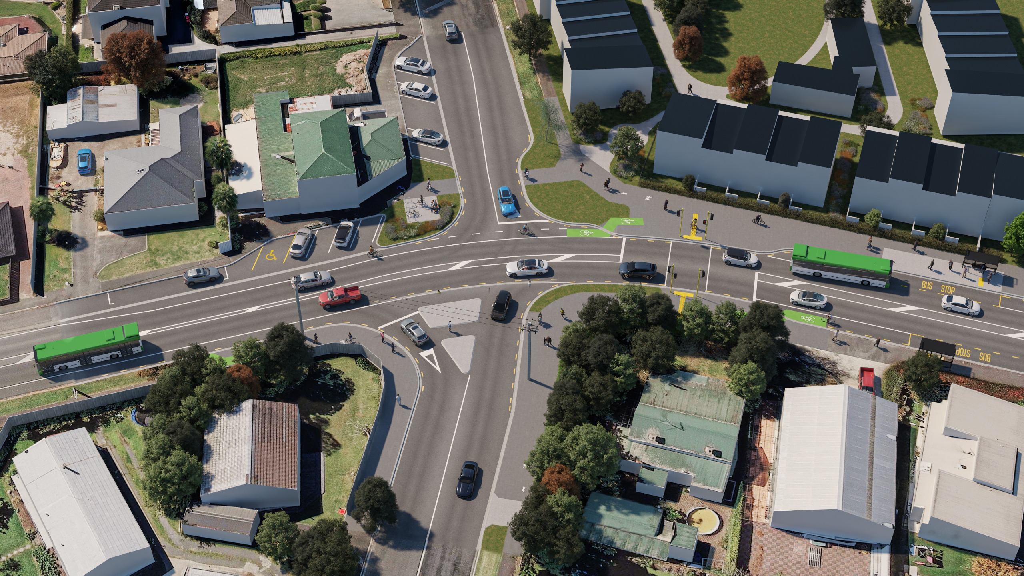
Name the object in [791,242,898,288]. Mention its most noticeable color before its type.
green bus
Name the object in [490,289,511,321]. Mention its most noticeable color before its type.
black car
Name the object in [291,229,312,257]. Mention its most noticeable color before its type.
gray car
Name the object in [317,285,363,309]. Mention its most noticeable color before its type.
red truck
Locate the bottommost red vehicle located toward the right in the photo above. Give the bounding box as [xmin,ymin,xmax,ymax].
[857,365,878,394]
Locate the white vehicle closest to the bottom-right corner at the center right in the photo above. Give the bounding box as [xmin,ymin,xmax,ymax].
[940,295,982,316]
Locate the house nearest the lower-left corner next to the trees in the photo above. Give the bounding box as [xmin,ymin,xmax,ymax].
[11,426,154,576]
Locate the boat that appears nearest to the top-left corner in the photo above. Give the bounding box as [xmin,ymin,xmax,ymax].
[47,137,68,170]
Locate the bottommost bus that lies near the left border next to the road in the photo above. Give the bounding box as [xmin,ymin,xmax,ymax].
[27,321,142,374]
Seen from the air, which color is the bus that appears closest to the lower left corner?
green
